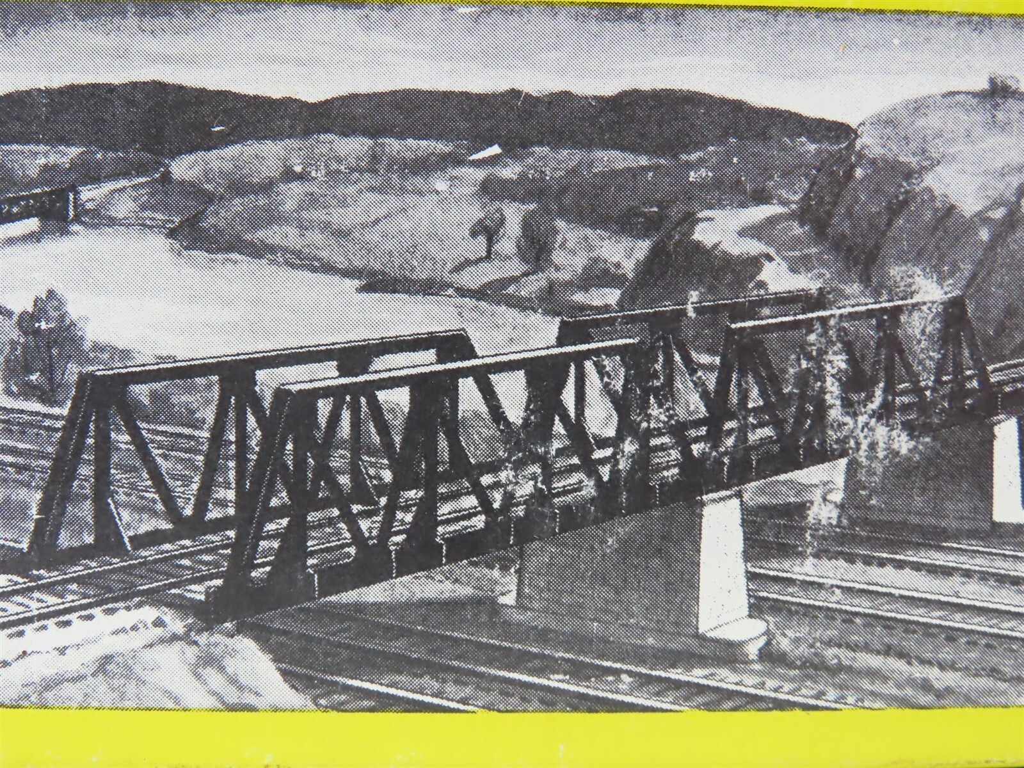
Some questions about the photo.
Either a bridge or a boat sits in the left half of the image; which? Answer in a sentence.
It is a bridge that can be seen in the left half of the image.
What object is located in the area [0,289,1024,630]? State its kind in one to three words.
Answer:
bridge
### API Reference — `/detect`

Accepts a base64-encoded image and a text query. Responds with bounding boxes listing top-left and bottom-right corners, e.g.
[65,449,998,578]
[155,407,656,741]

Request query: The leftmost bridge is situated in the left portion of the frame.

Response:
[0,183,77,240]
